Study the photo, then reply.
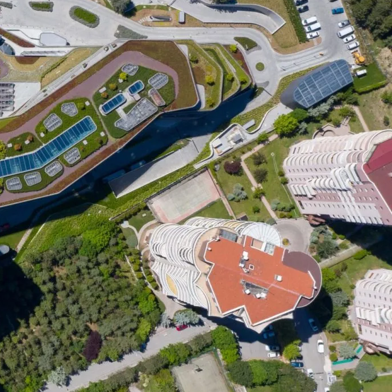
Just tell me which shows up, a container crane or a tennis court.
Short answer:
tennis court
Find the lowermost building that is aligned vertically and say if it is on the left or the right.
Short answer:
right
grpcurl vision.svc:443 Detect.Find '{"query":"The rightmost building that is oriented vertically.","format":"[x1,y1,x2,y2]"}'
[349,262,392,356]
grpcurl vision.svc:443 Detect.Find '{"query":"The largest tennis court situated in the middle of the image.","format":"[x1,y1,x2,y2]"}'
[147,172,220,224]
